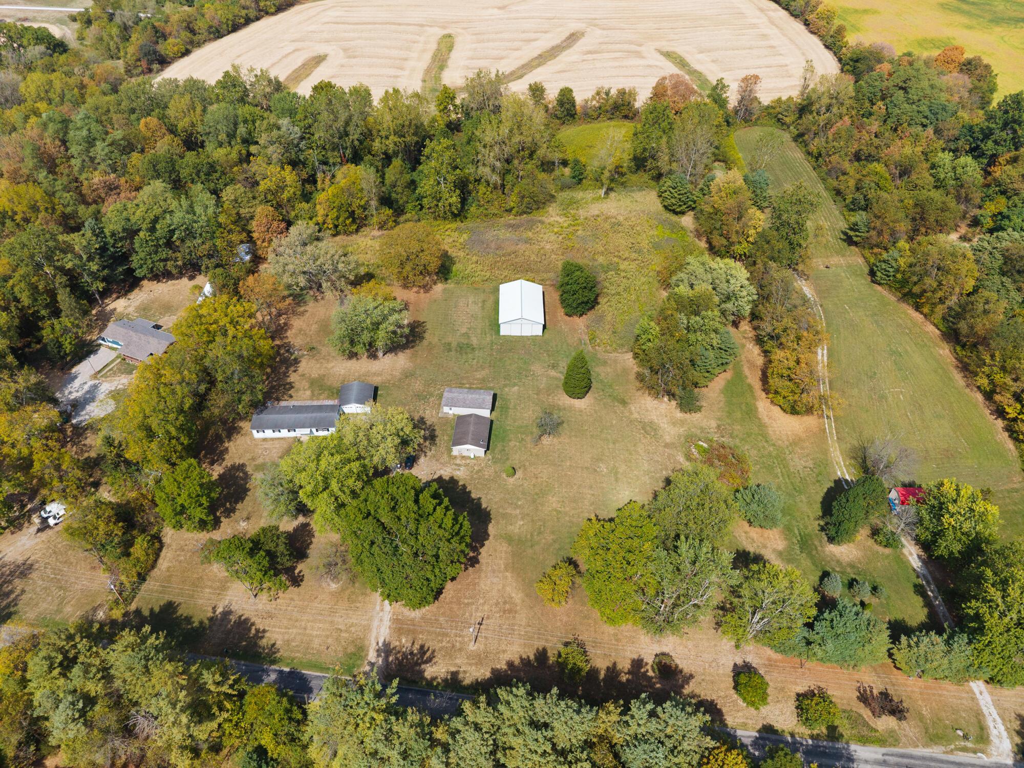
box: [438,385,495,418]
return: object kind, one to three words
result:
shed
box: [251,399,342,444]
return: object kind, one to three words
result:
house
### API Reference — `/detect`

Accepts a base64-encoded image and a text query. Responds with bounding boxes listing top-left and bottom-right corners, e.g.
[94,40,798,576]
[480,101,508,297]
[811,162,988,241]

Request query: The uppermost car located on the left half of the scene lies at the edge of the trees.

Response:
[403,452,415,469]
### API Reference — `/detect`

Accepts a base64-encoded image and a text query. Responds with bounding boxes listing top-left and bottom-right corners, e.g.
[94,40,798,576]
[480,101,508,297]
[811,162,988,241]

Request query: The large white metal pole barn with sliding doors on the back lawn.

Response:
[499,279,544,336]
